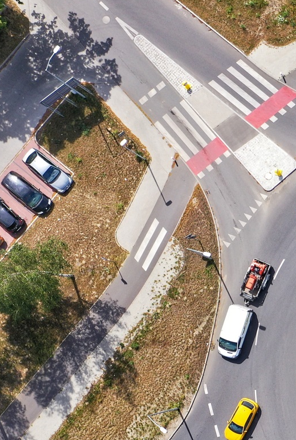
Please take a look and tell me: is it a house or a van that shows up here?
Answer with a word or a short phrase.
van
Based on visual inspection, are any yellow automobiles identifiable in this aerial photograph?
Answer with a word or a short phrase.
Yes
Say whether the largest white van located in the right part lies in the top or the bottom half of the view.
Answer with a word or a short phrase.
bottom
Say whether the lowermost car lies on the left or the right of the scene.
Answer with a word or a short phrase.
right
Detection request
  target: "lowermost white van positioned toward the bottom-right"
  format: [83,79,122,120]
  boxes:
[215,304,253,360]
